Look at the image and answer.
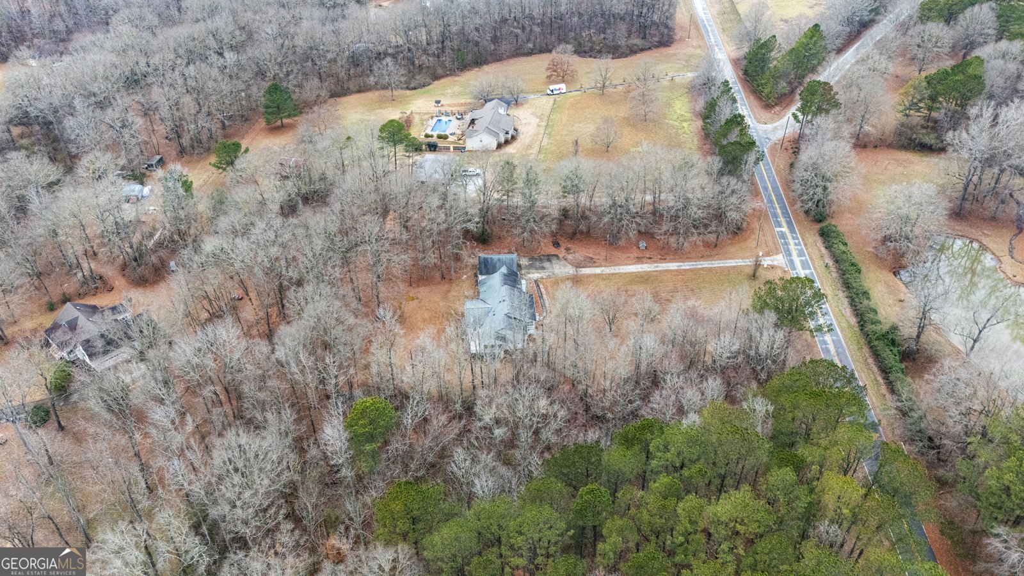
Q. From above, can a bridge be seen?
No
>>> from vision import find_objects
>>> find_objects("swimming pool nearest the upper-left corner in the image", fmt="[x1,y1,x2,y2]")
[430,119,452,133]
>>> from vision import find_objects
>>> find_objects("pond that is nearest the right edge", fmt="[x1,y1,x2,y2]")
[897,239,1024,391]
